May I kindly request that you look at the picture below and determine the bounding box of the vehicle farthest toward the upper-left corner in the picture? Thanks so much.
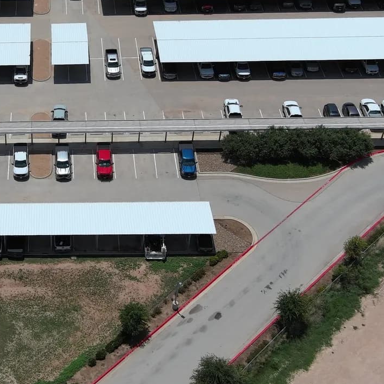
[13,65,28,83]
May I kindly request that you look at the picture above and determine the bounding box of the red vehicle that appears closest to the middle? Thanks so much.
[95,147,113,180]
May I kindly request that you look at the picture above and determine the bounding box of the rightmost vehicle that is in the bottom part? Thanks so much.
[195,233,214,250]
